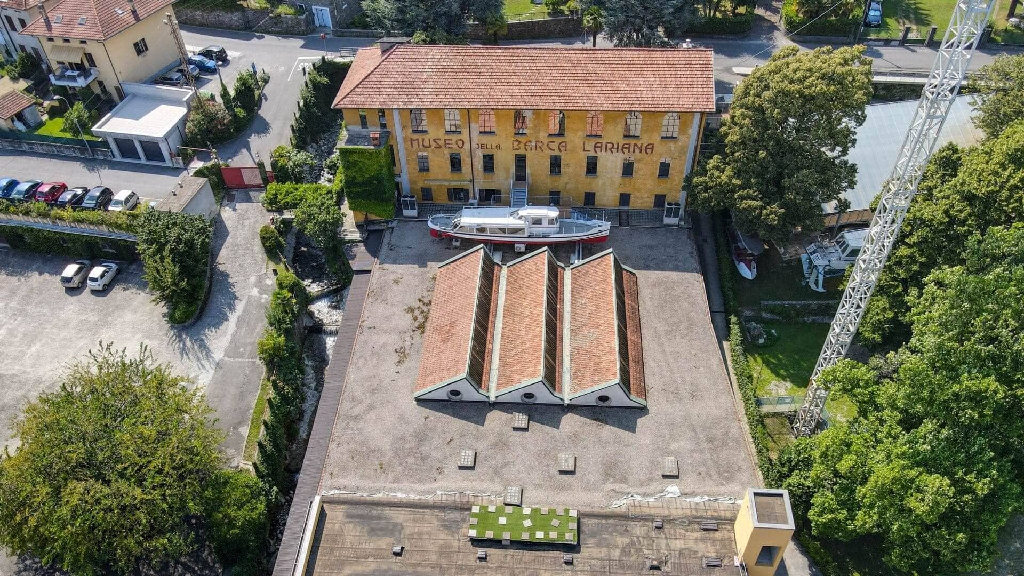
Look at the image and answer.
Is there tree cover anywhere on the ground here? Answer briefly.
Yes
